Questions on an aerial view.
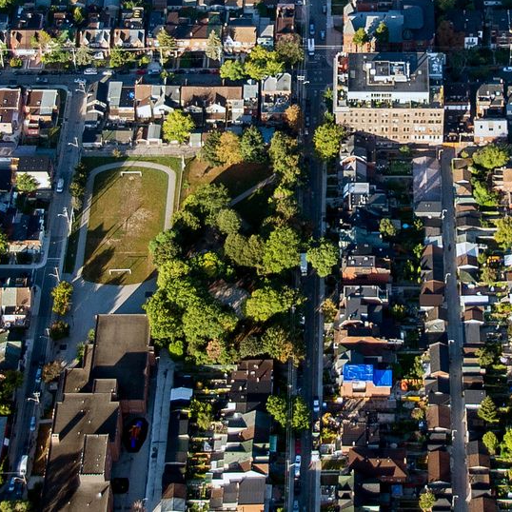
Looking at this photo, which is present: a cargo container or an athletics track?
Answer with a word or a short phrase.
athletics track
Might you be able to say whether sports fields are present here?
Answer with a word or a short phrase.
Yes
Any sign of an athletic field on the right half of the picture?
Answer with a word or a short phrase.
No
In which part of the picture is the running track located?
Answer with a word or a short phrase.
left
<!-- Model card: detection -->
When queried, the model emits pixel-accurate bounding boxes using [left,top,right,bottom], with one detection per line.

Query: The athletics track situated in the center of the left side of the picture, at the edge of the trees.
[69,161,178,287]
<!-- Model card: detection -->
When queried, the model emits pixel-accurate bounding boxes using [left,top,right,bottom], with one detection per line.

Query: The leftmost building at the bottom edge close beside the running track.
[45,315,149,512]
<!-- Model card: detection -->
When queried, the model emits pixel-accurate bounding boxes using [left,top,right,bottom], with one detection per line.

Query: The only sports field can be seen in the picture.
[84,167,168,284]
